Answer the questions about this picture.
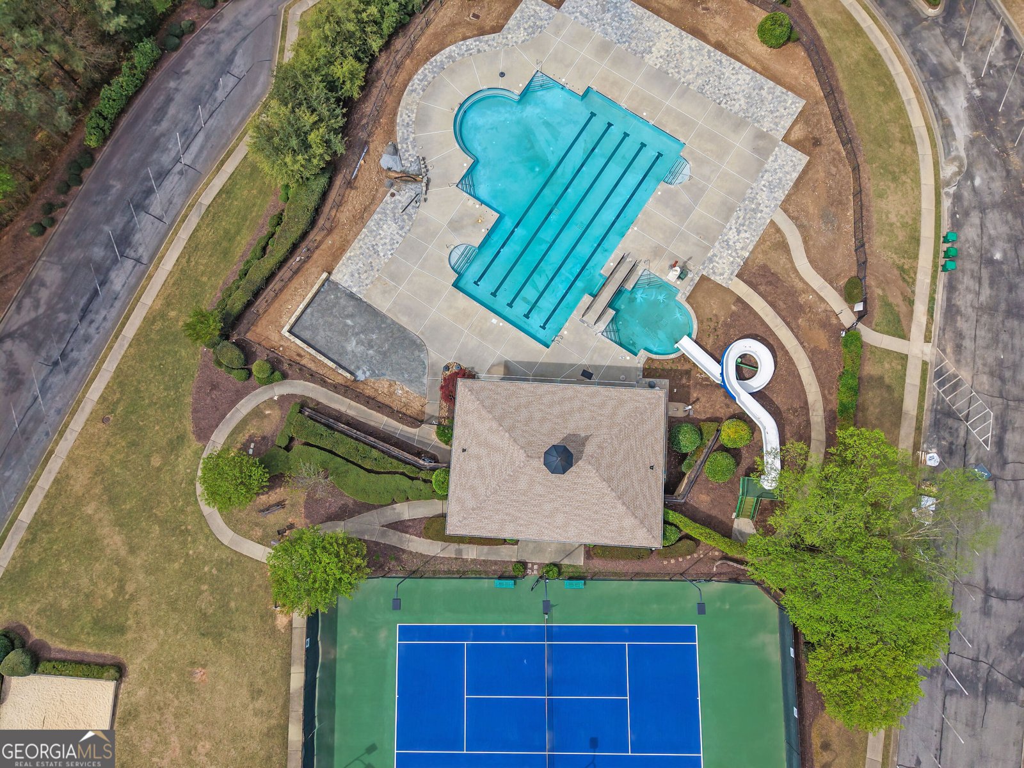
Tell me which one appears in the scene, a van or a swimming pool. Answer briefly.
swimming pool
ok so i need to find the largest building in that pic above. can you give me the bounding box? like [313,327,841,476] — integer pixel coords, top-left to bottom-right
[445,377,668,550]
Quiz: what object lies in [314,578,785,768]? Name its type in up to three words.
tennis court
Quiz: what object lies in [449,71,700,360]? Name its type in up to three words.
swimming pool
